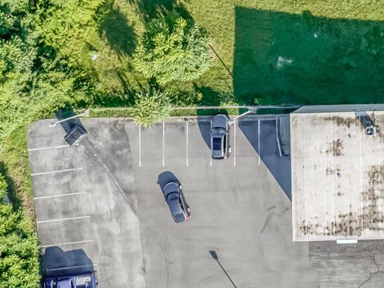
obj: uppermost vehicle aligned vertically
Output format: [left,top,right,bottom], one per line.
[209,115,231,160]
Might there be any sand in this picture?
No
